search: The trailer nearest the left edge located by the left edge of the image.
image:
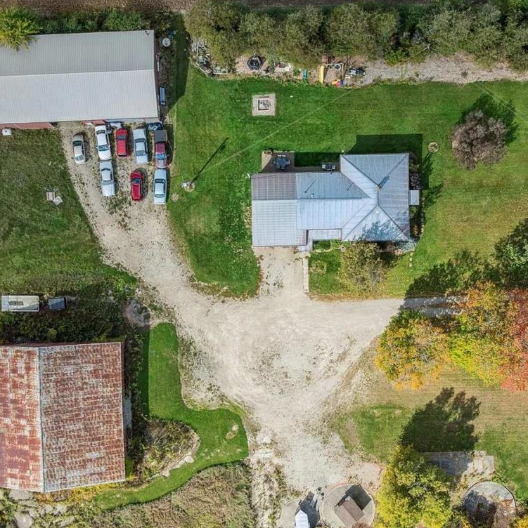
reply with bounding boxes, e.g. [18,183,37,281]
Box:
[1,296,43,312]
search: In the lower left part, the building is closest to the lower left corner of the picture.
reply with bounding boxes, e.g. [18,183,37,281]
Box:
[0,340,138,492]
